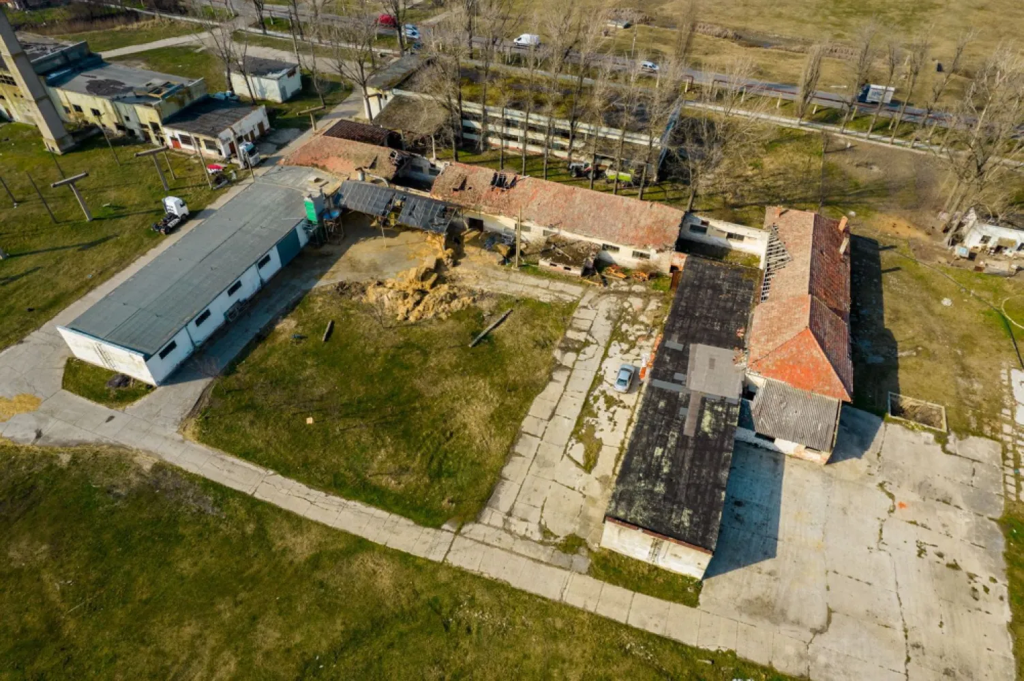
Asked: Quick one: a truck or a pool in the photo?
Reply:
truck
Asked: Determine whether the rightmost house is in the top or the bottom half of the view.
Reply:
top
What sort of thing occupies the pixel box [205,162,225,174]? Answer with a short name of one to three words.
vehicle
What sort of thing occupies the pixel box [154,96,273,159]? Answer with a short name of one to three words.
building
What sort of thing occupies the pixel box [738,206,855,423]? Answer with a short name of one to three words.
house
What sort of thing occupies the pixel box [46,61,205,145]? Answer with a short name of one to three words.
building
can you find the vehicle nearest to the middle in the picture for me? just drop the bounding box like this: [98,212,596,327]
[616,362,635,391]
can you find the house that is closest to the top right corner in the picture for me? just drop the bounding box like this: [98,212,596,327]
[944,213,1024,259]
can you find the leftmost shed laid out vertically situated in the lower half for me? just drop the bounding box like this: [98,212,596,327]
[599,255,762,581]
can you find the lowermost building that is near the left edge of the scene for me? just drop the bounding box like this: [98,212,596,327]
[50,182,335,387]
